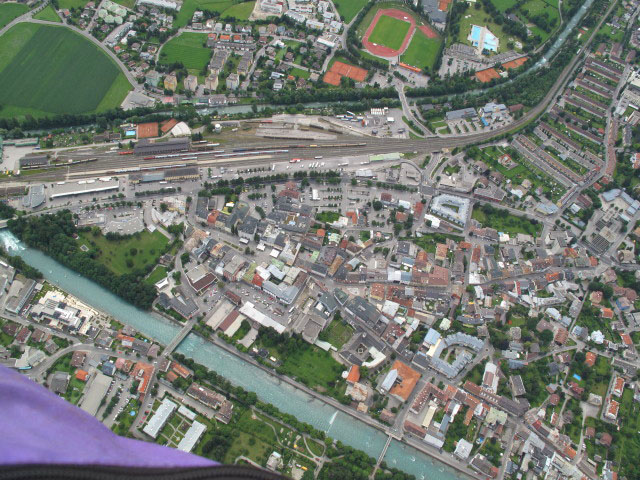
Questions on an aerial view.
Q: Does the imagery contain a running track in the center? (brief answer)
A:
No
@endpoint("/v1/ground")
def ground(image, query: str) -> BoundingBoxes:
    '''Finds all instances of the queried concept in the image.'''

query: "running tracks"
[362,8,414,58]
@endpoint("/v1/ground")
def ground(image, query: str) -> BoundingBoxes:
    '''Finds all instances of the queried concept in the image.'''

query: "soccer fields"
[408,30,440,64]
[368,15,409,50]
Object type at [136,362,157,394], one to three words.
house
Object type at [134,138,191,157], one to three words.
building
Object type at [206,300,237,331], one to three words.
building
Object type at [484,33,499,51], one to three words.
swimming pool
